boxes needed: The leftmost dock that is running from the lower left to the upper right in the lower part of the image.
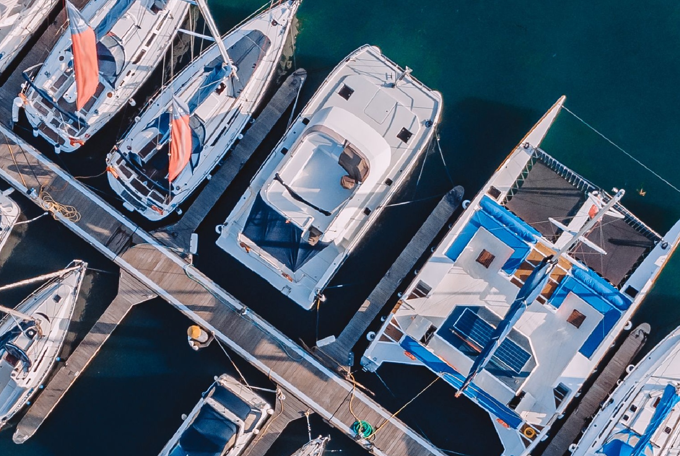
[13,267,158,443]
